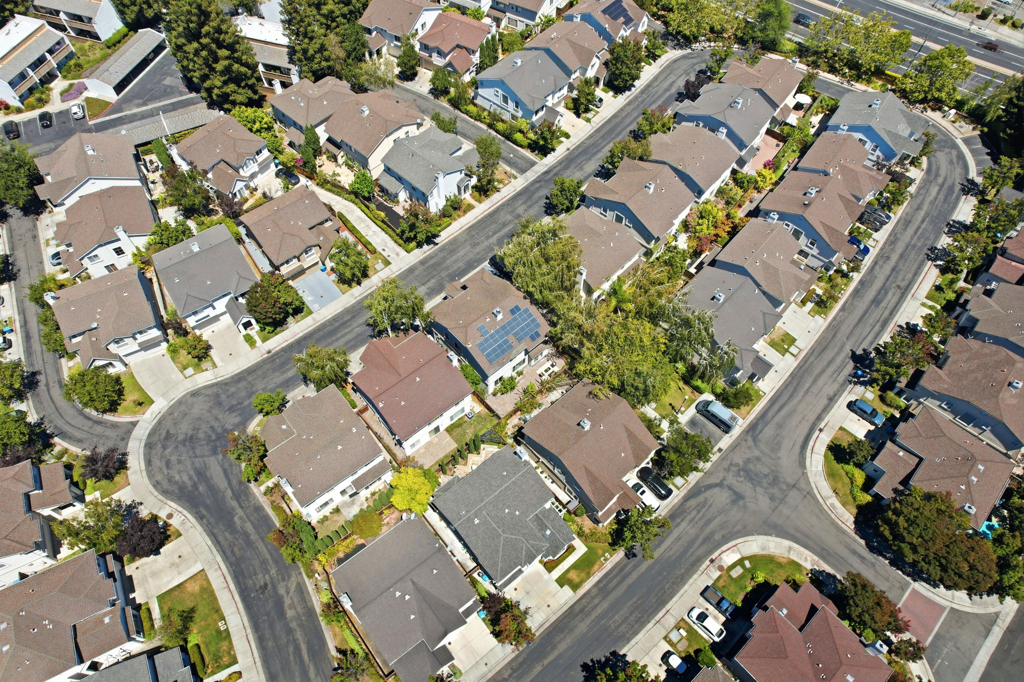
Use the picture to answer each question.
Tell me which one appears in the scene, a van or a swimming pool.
van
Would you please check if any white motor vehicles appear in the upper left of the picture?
Yes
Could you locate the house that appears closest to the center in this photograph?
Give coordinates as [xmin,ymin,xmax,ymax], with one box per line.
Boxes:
[430,269,551,391]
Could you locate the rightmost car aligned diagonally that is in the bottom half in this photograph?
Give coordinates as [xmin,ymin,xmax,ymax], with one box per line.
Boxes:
[847,398,884,426]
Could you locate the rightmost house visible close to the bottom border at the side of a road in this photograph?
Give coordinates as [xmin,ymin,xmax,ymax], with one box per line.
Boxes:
[723,582,894,682]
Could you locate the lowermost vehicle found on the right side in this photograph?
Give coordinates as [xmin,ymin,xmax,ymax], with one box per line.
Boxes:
[656,645,690,681]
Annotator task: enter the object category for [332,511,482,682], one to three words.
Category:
house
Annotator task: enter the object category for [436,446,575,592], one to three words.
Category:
house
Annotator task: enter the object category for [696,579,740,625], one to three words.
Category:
truck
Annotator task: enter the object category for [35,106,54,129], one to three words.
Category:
car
